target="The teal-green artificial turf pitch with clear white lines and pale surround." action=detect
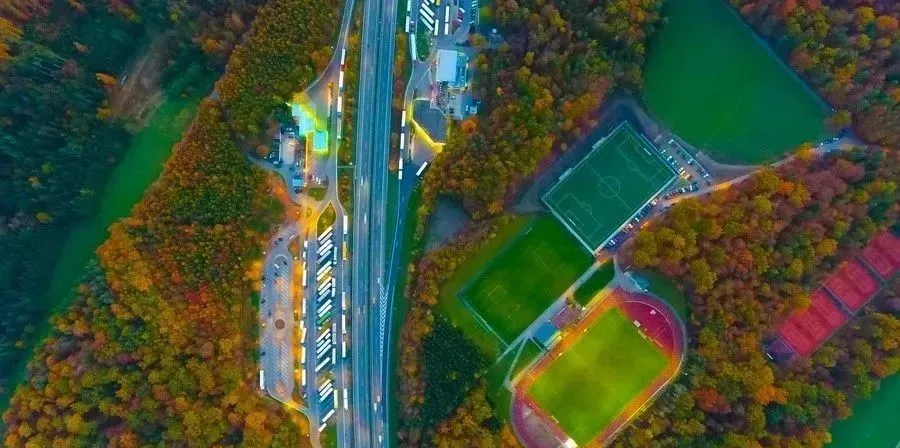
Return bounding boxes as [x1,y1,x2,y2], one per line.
[541,120,678,254]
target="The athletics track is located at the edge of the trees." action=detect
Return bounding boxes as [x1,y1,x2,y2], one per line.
[511,290,688,448]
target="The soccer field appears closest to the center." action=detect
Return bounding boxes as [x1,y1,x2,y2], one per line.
[458,213,593,348]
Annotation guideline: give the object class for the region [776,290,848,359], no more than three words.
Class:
tennis court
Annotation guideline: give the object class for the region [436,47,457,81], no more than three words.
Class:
building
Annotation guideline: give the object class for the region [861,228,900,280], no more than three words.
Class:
tennis court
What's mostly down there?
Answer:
trees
